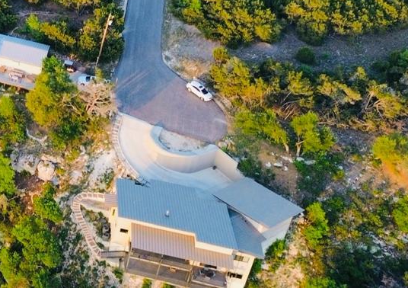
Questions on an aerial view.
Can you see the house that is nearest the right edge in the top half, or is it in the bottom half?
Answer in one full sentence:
The house that is nearest the right edge is in the bottom half of the image.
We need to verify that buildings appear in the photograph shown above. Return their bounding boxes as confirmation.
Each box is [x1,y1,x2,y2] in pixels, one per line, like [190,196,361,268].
[0,36,45,102]
[102,177,303,288]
